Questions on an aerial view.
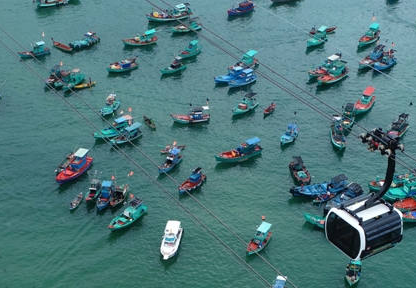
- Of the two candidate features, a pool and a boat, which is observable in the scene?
boat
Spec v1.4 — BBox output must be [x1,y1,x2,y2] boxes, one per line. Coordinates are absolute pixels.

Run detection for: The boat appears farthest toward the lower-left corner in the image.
[70,192,83,210]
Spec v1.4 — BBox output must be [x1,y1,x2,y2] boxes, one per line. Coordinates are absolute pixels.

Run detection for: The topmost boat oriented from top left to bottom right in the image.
[51,37,72,53]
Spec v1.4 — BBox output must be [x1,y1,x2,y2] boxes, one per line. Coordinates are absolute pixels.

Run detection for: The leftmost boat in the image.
[18,40,51,59]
